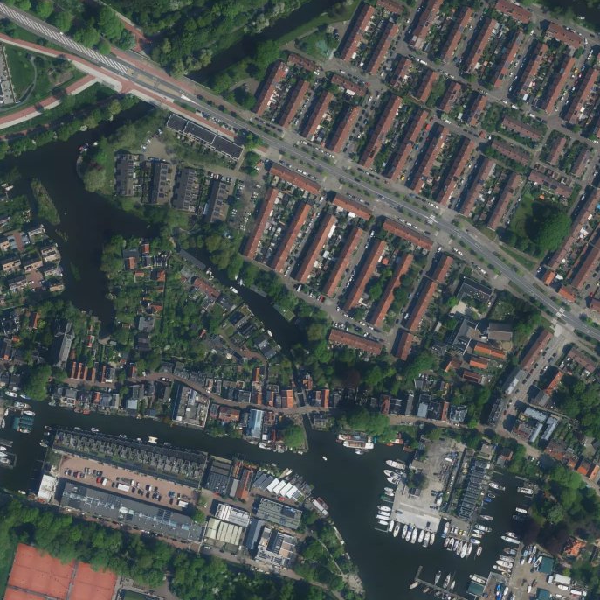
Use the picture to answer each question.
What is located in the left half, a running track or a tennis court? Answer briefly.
tennis court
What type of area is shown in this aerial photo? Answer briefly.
residential area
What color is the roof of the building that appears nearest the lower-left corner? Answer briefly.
white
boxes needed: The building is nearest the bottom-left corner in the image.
[37,475,57,502]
